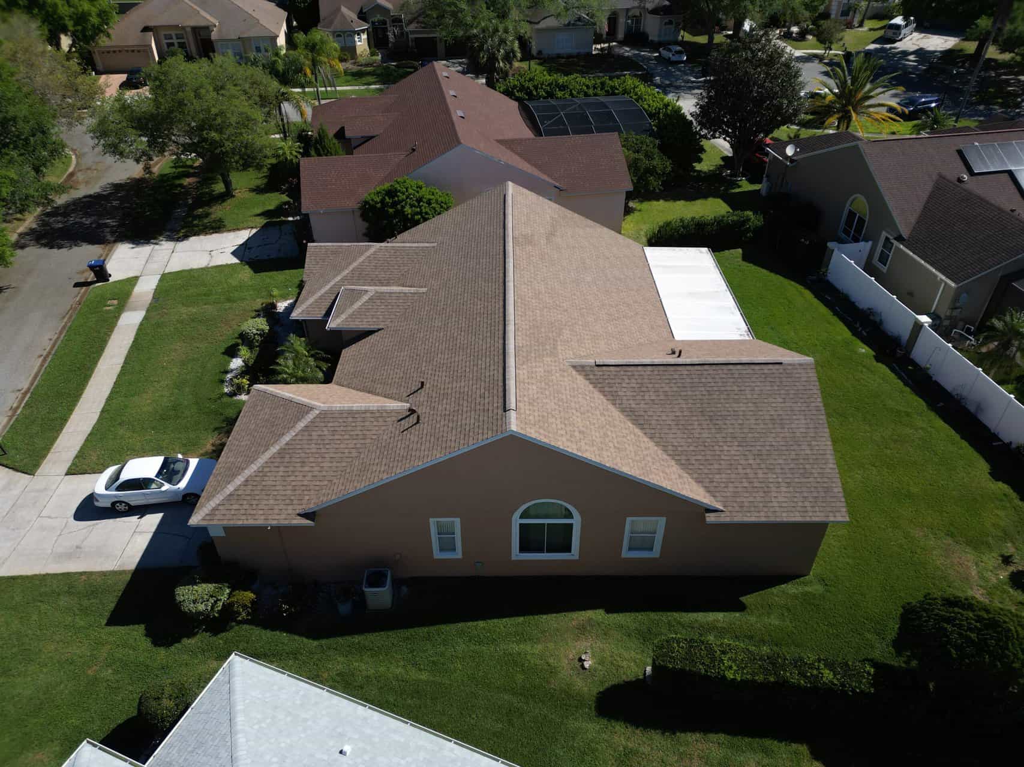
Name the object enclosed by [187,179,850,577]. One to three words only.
house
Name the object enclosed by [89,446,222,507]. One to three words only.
car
